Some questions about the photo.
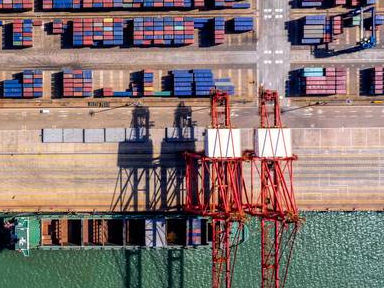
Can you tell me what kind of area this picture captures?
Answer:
port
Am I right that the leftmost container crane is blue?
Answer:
No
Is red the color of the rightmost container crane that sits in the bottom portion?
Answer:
Yes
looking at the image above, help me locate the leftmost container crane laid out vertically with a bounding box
[174,90,251,288]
